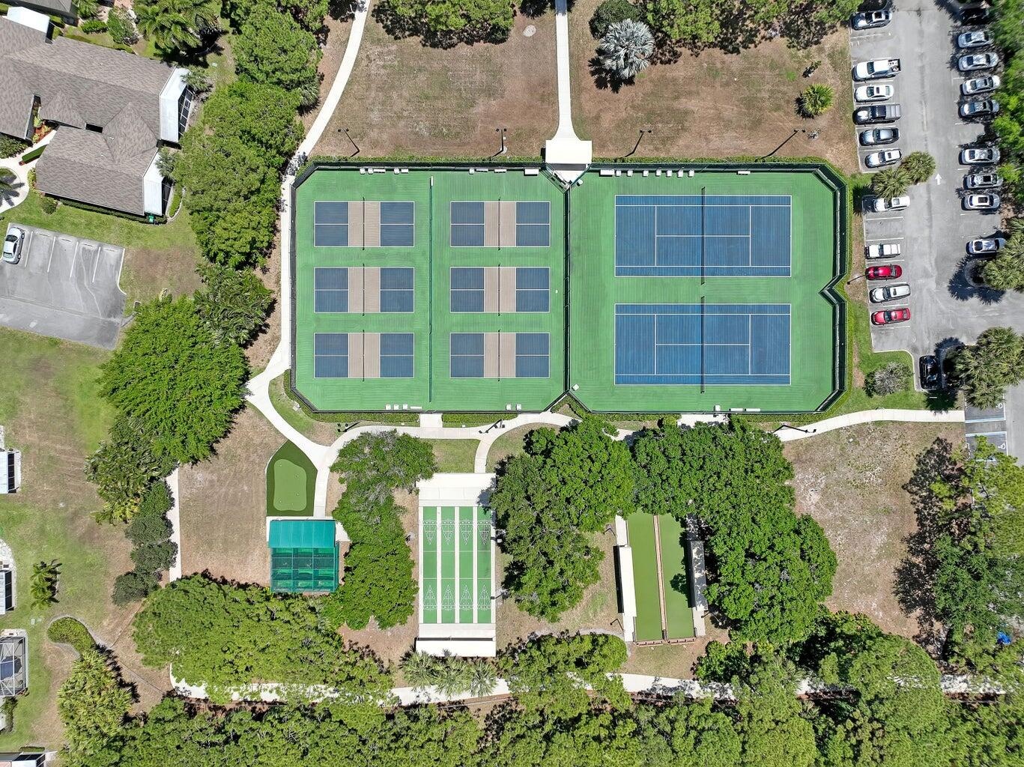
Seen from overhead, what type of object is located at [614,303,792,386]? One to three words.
tennis court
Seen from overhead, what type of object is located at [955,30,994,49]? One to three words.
car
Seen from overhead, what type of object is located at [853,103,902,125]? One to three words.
truck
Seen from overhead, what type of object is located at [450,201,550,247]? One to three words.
sports court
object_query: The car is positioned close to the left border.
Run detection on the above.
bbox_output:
[2,226,27,263]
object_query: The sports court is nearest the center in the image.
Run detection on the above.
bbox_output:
[450,333,550,378]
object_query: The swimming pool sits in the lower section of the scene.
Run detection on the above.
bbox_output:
[0,656,21,678]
